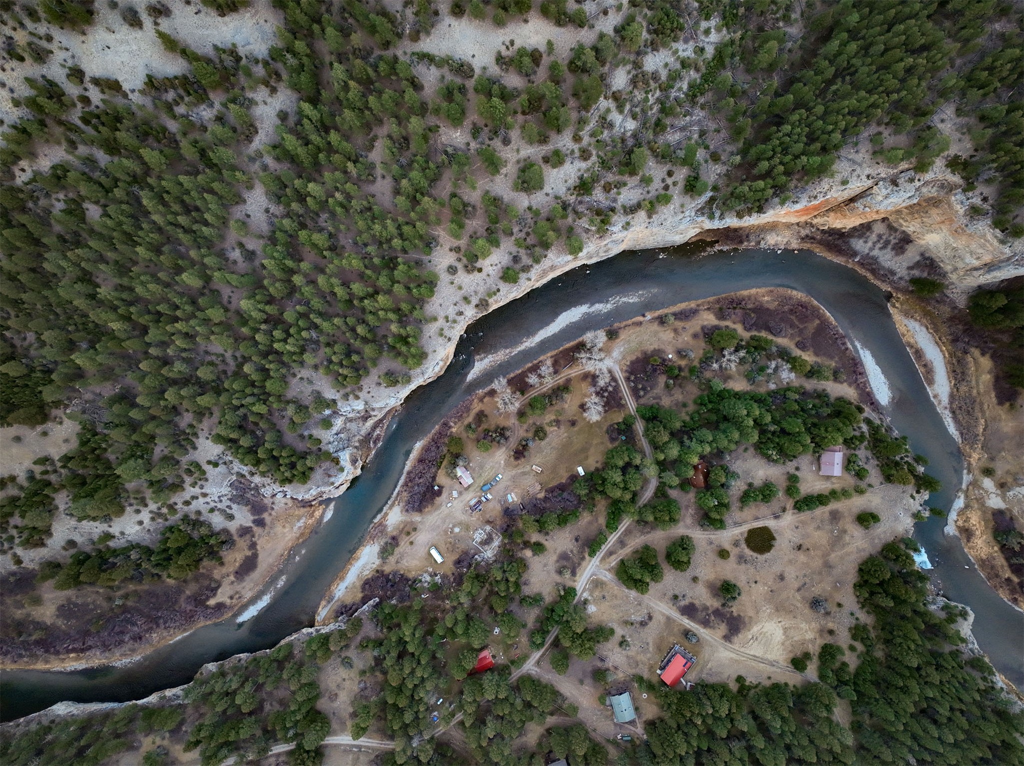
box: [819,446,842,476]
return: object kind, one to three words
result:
building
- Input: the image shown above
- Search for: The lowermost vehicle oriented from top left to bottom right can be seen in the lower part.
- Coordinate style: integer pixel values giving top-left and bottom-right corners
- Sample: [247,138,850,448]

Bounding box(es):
[430,547,444,564]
